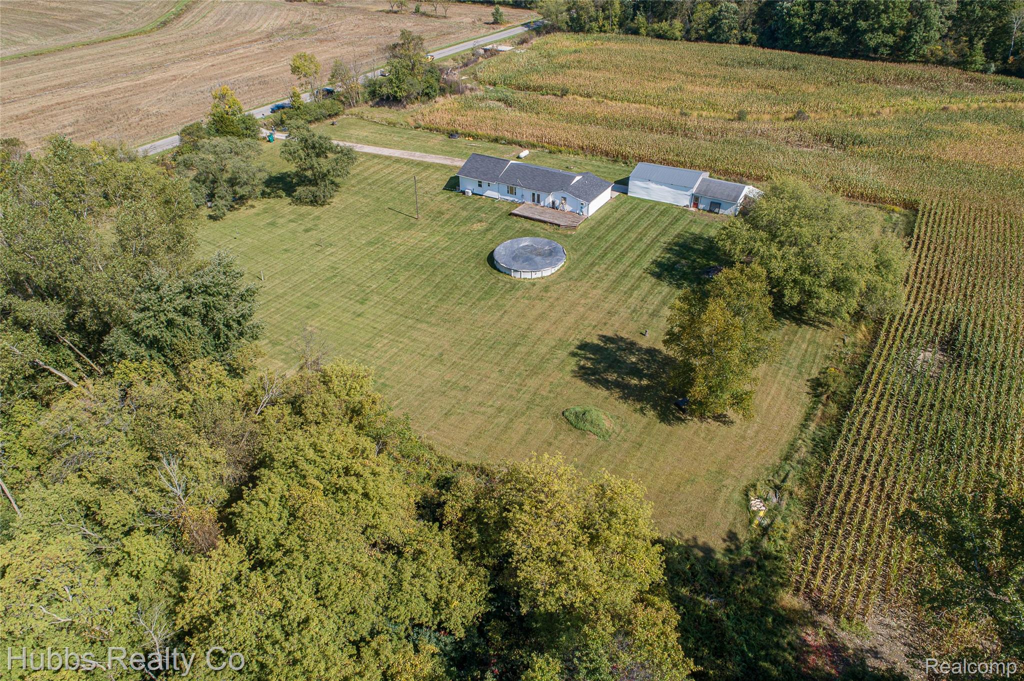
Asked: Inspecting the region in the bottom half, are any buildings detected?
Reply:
No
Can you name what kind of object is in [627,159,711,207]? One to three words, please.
barn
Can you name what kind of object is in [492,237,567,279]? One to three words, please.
swimming pool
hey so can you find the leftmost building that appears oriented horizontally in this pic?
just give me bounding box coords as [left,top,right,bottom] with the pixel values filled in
[455,153,615,220]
